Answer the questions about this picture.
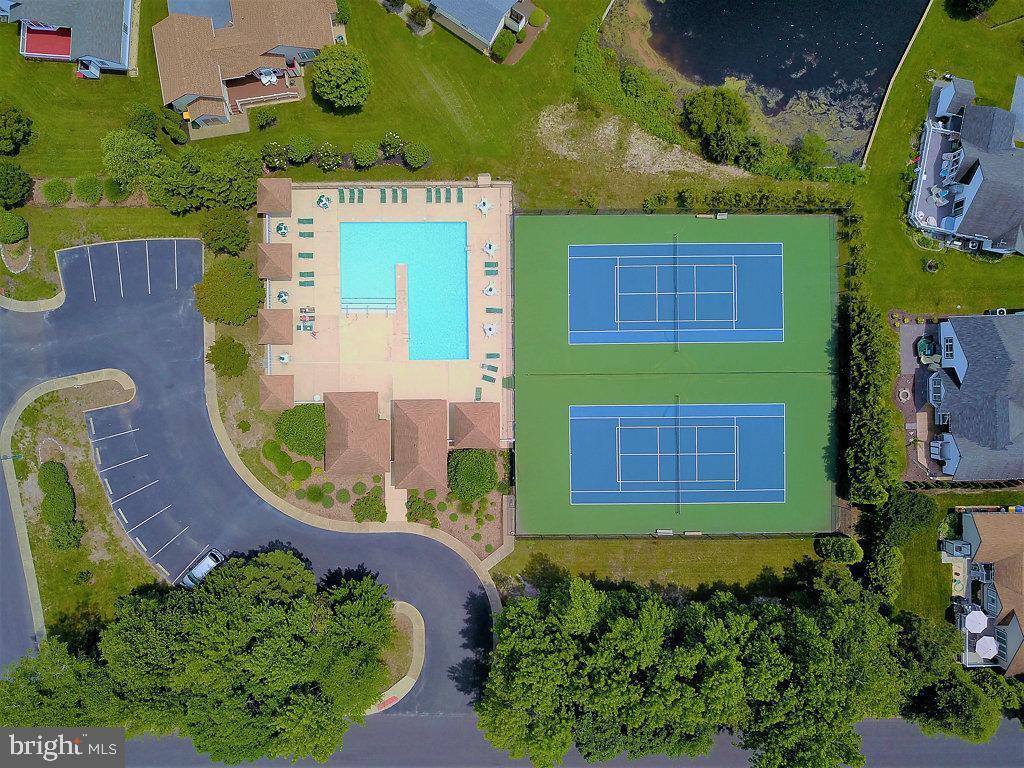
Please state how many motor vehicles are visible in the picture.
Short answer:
1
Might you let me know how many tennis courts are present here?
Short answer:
2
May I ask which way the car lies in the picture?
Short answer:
diagonally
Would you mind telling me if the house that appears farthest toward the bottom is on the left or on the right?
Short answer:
right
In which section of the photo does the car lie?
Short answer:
bottom left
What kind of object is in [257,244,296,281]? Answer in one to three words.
building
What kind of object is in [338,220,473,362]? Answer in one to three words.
swimming pool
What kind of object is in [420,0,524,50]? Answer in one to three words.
house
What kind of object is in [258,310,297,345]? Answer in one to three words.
building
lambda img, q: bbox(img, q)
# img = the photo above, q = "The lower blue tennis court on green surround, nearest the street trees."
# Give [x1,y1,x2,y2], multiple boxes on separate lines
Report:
[516,374,838,535]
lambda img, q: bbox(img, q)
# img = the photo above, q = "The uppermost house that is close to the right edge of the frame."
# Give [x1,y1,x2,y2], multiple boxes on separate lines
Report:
[908,79,1024,255]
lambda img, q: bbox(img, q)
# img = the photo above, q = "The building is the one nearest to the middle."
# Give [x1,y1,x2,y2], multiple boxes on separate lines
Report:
[455,402,501,447]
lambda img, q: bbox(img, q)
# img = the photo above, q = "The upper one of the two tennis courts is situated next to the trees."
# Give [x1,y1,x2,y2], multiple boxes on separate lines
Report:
[515,213,836,374]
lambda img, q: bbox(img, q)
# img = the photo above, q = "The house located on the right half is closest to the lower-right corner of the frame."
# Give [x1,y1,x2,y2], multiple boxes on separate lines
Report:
[946,512,1024,672]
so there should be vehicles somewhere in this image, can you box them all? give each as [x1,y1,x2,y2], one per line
[181,549,224,591]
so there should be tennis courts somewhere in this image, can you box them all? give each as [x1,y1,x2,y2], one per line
[516,374,838,535]
[515,213,836,374]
